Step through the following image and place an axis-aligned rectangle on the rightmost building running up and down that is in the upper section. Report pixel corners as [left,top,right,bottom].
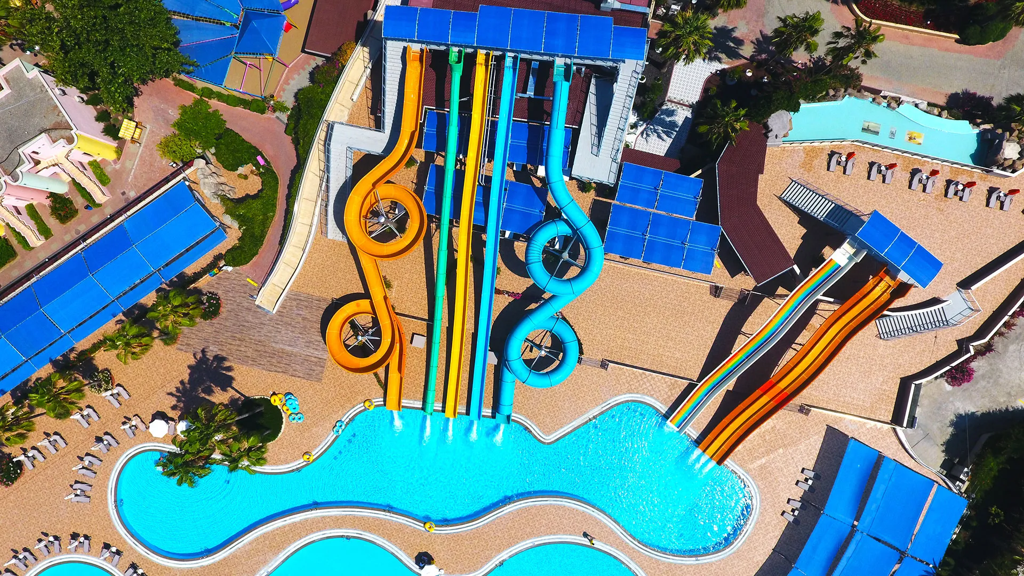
[711,120,796,286]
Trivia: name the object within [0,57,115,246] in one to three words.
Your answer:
building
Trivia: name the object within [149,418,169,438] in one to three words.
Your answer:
umbrella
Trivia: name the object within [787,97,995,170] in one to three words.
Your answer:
swimming pool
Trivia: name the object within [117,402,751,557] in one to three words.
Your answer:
swimming pool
